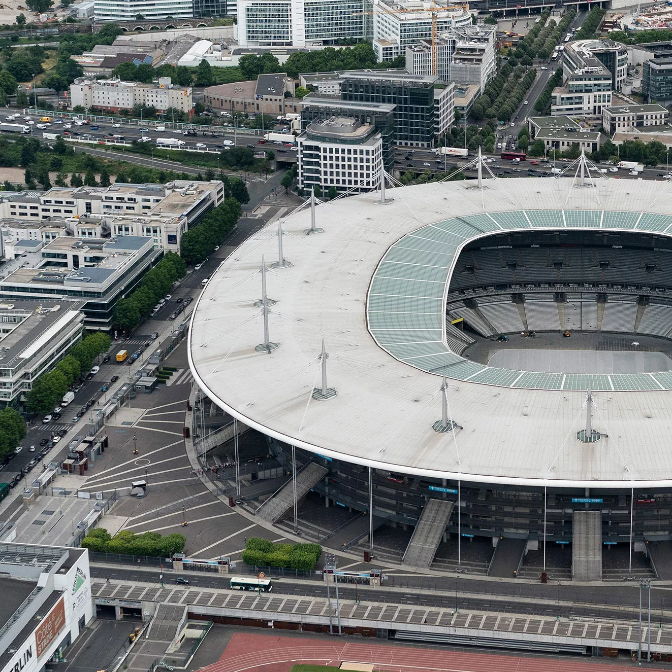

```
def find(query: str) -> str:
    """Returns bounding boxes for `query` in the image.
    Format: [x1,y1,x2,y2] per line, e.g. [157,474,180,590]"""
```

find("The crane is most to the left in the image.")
[350,0,472,76]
